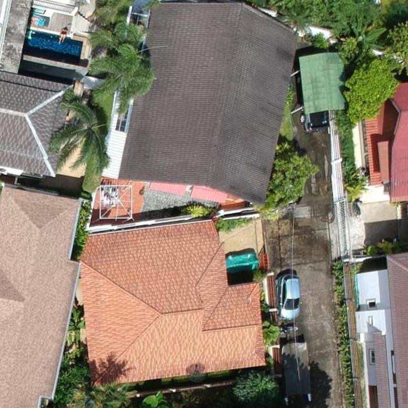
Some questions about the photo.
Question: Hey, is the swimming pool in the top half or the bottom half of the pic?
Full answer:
You can find the swimming pool in the top half.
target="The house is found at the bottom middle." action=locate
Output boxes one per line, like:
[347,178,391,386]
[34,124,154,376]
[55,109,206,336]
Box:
[78,220,267,384]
